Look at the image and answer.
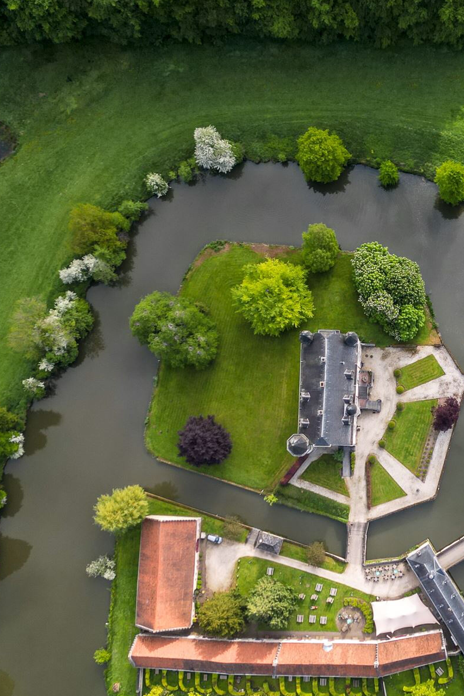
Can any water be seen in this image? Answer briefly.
Yes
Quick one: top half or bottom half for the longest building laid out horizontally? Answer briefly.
bottom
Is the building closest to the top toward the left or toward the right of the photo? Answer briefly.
right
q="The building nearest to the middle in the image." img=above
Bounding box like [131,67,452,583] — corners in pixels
[287,330,362,456]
